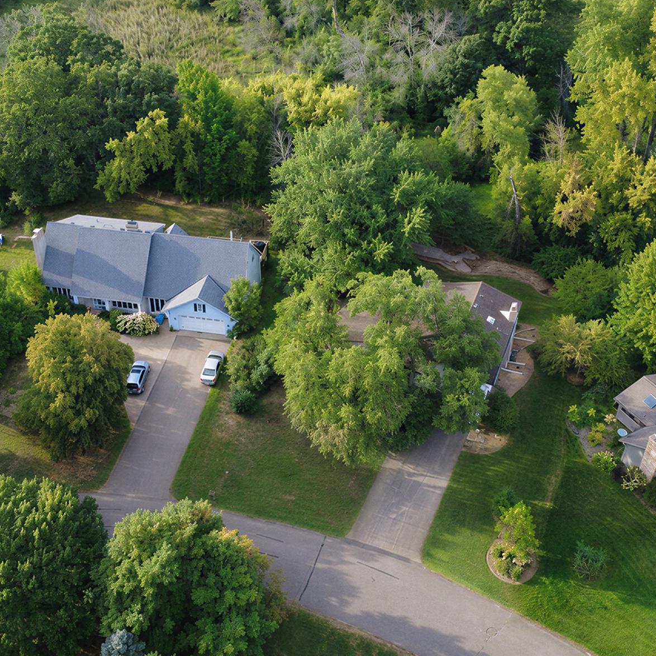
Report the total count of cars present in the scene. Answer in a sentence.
There are 2 cars in the image.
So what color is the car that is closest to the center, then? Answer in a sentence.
In this view, the car that is closest to the center is white.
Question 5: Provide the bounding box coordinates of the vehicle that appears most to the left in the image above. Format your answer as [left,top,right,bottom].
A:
[126,358,150,393]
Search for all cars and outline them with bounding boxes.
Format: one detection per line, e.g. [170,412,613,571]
[126,358,150,393]
[199,350,222,385]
